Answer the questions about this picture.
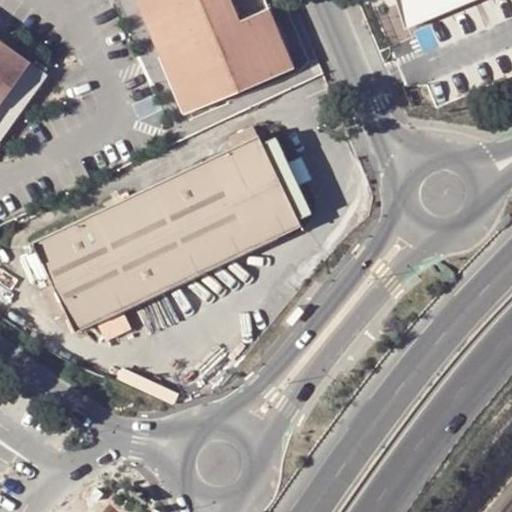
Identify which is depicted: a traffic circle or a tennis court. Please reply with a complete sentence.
This aerial view contains a traffic circle.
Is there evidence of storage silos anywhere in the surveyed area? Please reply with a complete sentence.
No, this view has no storage silo in it.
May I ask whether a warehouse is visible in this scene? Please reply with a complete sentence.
Yes, the frame does contain a warehouse.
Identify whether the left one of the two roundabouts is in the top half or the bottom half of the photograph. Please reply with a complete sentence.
The left one of the two roundabouts sits in the bottom half of the picture.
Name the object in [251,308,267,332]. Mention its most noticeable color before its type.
white vehicle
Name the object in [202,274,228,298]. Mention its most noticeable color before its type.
white vehicle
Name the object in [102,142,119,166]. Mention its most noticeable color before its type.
white car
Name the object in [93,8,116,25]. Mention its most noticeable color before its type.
gray car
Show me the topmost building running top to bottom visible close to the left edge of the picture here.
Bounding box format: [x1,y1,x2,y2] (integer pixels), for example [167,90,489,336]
[0,40,48,147]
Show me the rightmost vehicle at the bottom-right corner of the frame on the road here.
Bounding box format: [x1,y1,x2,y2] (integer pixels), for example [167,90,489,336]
[446,412,467,434]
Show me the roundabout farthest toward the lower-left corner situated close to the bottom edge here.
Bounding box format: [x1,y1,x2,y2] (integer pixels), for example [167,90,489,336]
[165,410,273,512]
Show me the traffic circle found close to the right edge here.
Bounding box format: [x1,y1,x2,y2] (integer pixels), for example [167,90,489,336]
[390,140,496,246]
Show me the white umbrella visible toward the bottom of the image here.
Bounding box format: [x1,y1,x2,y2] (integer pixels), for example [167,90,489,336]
[90,487,105,502]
